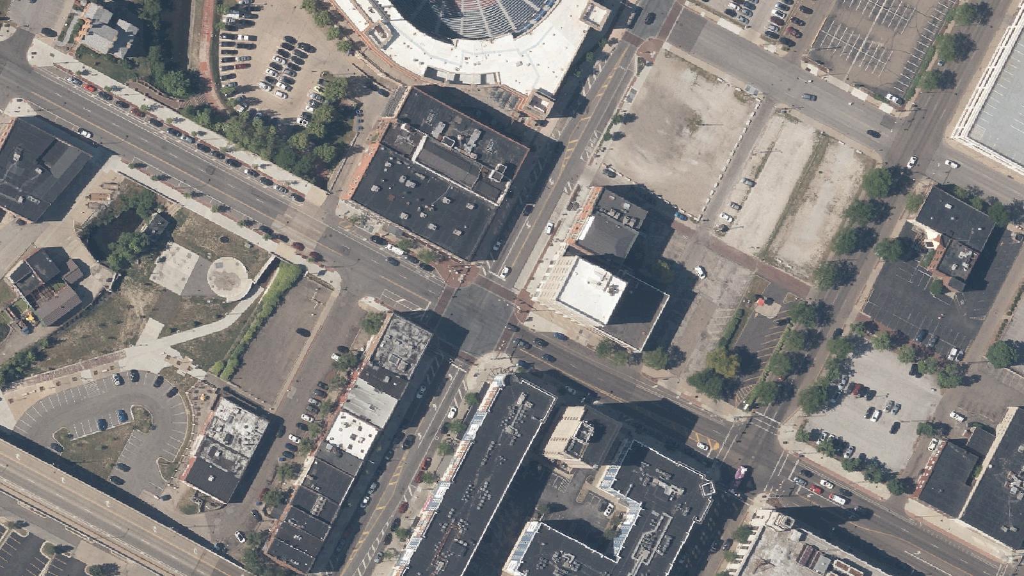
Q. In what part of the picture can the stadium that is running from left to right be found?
top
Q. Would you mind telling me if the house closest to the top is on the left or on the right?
left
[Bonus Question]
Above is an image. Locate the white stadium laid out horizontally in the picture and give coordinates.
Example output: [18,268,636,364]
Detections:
[318,0,613,120]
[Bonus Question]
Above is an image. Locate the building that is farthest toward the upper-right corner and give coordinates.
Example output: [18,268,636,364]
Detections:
[950,4,1024,179]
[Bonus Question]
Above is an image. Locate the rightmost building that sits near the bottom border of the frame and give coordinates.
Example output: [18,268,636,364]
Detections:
[951,407,1024,558]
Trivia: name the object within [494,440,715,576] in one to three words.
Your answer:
building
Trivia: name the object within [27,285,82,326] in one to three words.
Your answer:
barn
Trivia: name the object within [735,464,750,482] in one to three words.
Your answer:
vehicle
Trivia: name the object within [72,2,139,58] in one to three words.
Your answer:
house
